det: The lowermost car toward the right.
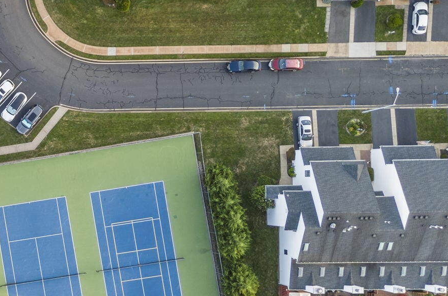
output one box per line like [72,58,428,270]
[297,115,315,146]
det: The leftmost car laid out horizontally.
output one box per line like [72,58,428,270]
[227,59,261,74]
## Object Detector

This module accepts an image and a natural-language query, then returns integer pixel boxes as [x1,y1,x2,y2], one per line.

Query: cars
[269,57,302,72]
[0,78,15,103]
[1,92,27,122]
[227,59,261,74]
[297,115,315,146]
[16,104,43,134]
[411,2,430,35]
